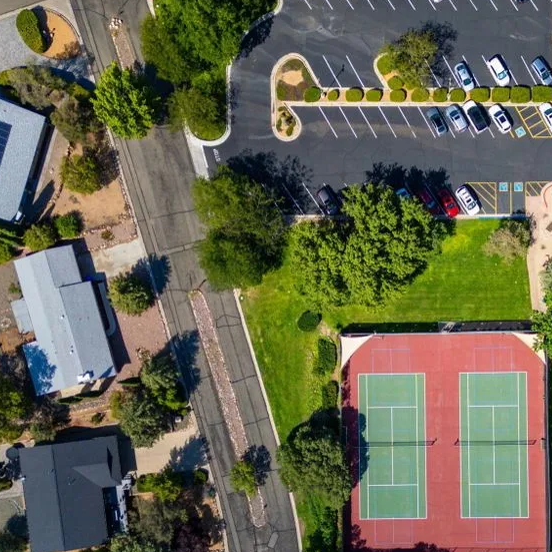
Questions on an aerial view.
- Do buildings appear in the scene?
Yes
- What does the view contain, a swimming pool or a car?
car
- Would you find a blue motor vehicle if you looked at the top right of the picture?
Yes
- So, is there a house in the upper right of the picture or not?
No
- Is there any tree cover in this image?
Yes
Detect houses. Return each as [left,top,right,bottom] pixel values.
[19,436,128,552]
[11,245,123,396]
[0,100,52,220]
